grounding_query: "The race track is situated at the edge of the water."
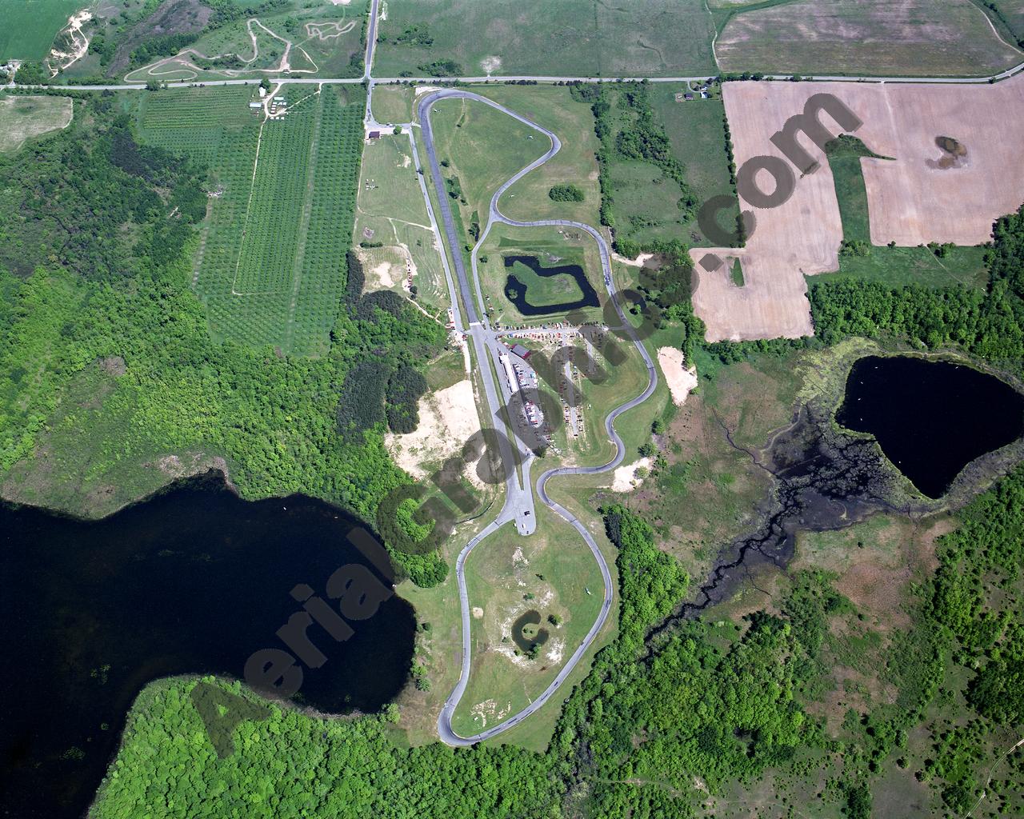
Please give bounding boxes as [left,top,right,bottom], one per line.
[419,90,658,746]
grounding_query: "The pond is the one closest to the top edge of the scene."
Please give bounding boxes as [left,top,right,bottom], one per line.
[504,256,599,315]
